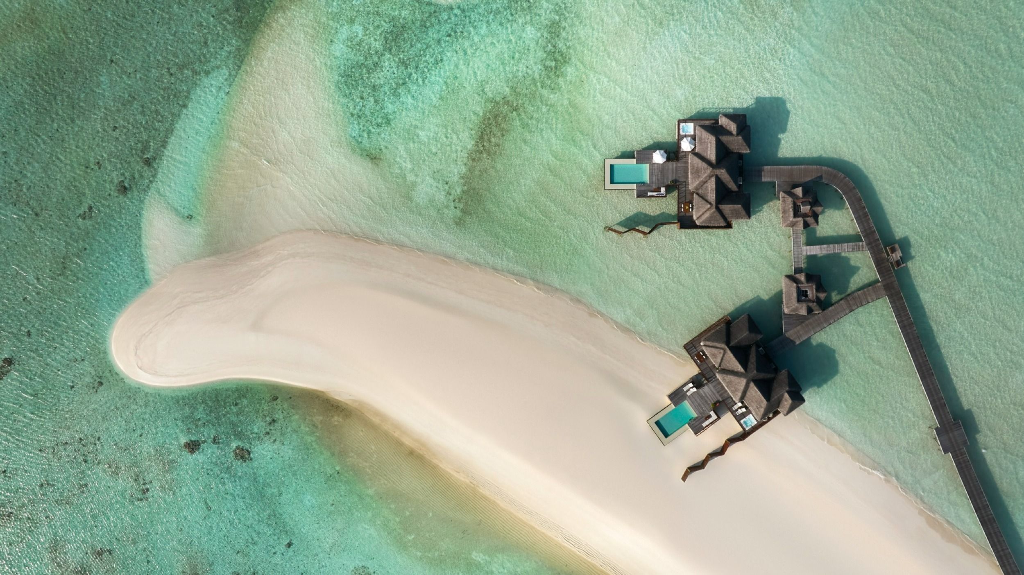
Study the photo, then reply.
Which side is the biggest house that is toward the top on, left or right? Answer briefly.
right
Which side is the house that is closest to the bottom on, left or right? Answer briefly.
right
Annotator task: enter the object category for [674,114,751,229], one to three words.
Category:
house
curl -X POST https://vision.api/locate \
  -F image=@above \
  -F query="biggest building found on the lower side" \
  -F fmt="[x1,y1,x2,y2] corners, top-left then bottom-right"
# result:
[681,314,806,438]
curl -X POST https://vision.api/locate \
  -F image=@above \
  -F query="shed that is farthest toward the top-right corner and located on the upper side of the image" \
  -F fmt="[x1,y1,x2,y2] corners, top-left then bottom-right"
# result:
[778,186,825,231]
